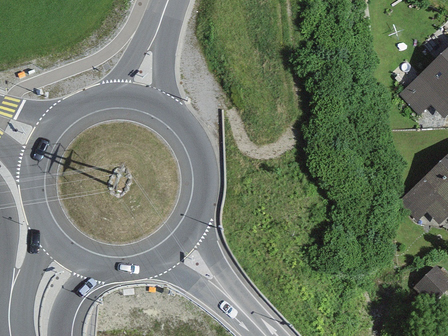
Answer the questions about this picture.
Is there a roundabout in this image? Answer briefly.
Yes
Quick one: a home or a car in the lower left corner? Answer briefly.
car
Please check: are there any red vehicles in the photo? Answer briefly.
No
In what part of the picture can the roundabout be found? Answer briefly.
left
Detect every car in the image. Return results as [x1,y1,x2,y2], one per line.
[218,299,238,320]
[118,264,140,274]
[78,277,98,298]
[28,230,40,254]
[32,138,48,162]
